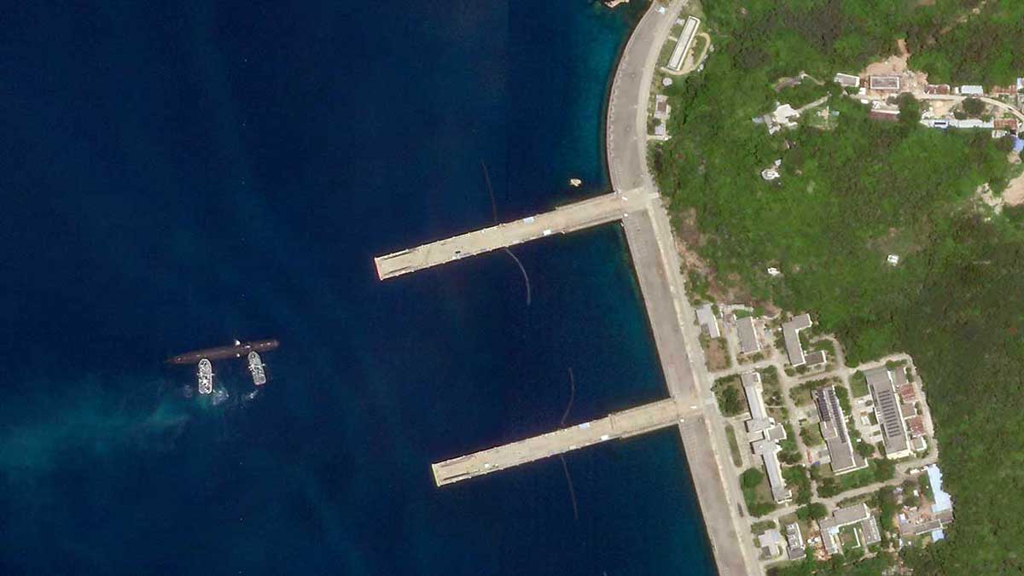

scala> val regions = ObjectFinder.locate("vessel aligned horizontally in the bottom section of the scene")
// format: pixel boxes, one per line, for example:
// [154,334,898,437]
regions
[166,340,279,360]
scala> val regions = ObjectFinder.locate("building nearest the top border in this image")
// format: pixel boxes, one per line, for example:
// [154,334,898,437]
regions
[667,16,701,72]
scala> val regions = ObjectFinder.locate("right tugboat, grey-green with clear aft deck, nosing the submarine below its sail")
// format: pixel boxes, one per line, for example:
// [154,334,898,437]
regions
[248,350,267,387]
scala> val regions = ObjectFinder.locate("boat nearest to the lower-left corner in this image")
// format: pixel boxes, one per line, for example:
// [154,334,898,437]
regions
[195,357,213,396]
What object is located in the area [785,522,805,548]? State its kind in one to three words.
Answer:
house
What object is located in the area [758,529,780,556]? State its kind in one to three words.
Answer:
house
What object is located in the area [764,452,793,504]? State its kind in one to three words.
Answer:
building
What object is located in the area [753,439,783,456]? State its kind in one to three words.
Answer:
building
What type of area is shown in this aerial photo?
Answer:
port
